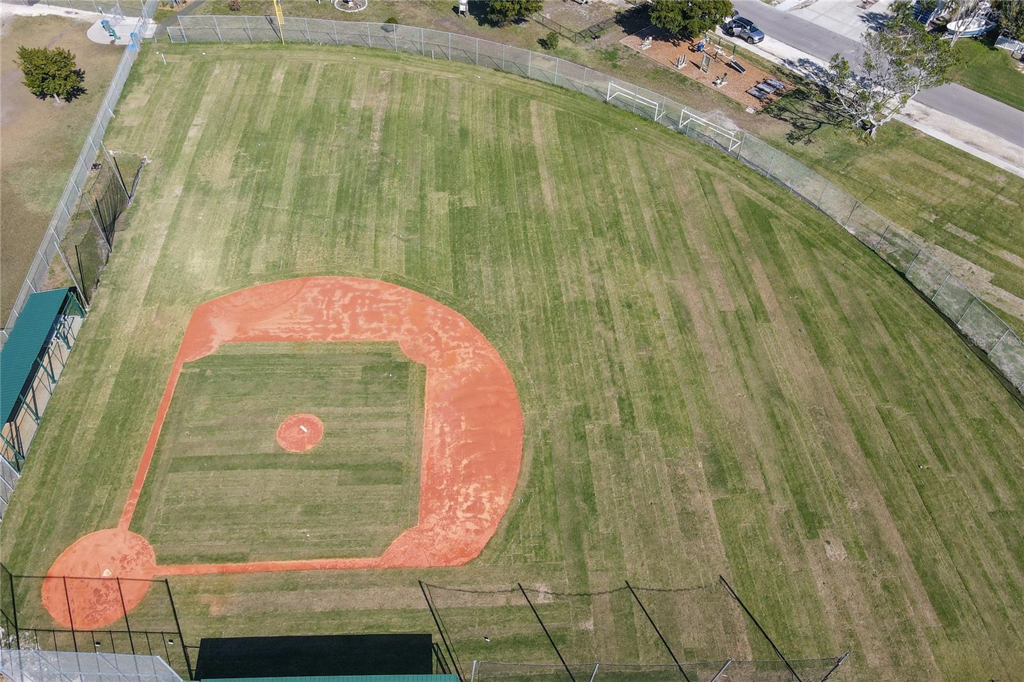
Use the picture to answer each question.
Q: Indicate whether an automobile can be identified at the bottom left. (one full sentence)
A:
No, no automobile appears at the bottom left.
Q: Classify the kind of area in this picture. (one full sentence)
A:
This image shows a sports ground.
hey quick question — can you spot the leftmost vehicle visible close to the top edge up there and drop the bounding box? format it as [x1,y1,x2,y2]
[725,8,765,44]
